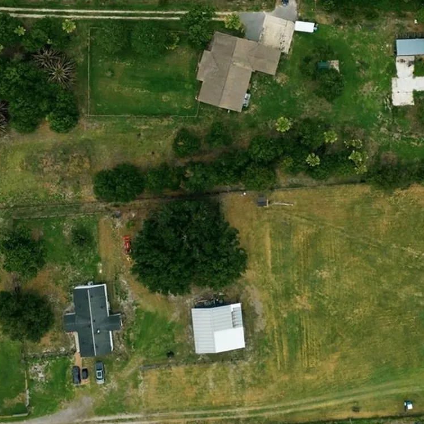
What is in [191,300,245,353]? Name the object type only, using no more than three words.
barn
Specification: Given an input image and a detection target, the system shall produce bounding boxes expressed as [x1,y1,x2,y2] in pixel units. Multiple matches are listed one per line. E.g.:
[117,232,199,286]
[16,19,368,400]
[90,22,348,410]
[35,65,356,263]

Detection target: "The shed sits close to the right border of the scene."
[394,34,424,56]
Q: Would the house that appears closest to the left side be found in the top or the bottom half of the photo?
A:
bottom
